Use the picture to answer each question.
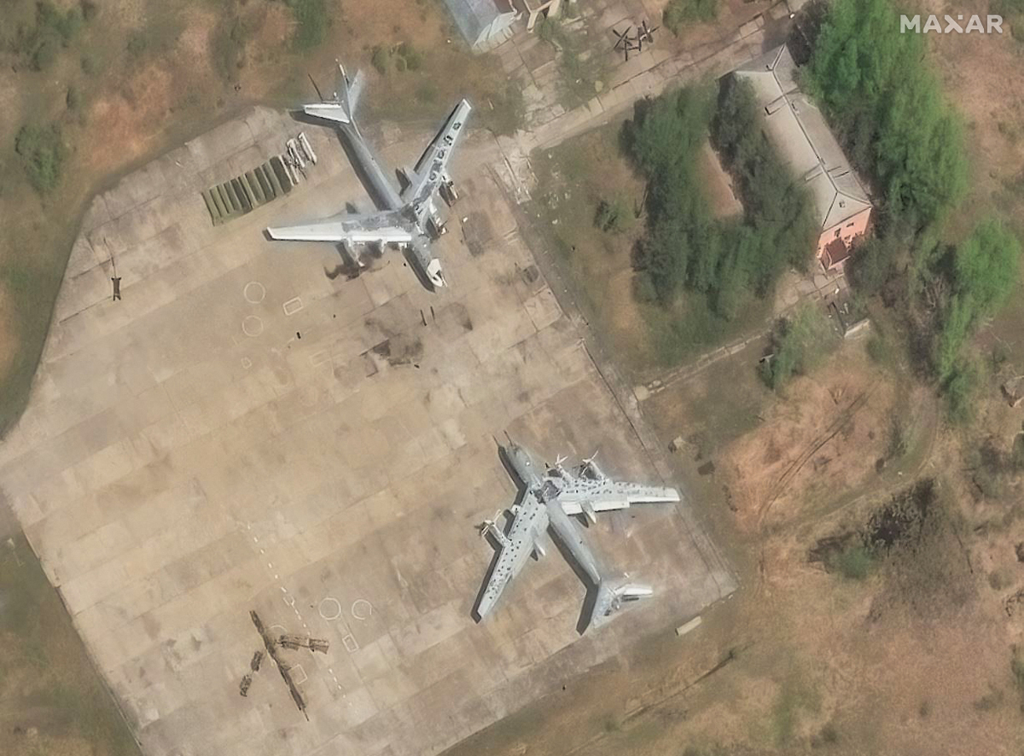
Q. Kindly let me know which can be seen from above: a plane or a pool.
plane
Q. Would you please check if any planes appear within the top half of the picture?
Yes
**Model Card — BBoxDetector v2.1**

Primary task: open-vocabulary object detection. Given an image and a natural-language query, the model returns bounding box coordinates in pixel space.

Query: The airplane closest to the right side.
[474,431,679,628]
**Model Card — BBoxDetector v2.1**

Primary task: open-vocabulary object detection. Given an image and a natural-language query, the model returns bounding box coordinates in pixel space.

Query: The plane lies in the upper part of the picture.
[263,60,467,293]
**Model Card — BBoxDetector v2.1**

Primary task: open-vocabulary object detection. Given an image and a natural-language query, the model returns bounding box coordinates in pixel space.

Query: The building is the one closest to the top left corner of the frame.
[443,0,516,60]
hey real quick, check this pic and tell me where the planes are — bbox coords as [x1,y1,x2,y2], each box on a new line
[263,60,467,293]
[474,431,679,628]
